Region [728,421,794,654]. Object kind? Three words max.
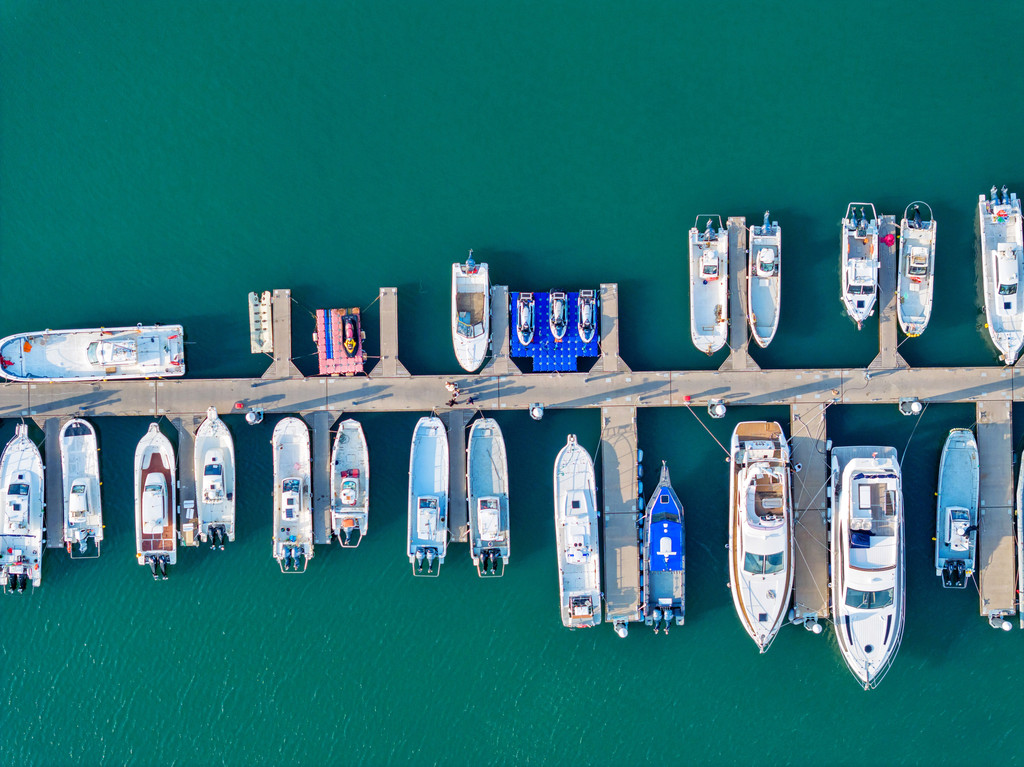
boat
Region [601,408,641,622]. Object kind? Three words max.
pier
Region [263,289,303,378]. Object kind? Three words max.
pier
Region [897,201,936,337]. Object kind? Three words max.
boat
